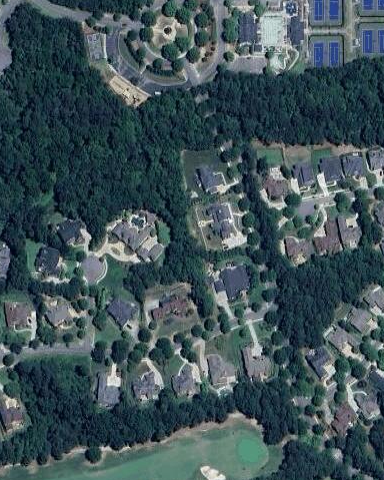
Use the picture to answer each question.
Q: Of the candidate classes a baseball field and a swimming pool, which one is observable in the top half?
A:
swimming pool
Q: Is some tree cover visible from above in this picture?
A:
Yes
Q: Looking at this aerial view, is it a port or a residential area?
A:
residential area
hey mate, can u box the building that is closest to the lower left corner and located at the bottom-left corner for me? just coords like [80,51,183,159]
[0,398,25,432]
